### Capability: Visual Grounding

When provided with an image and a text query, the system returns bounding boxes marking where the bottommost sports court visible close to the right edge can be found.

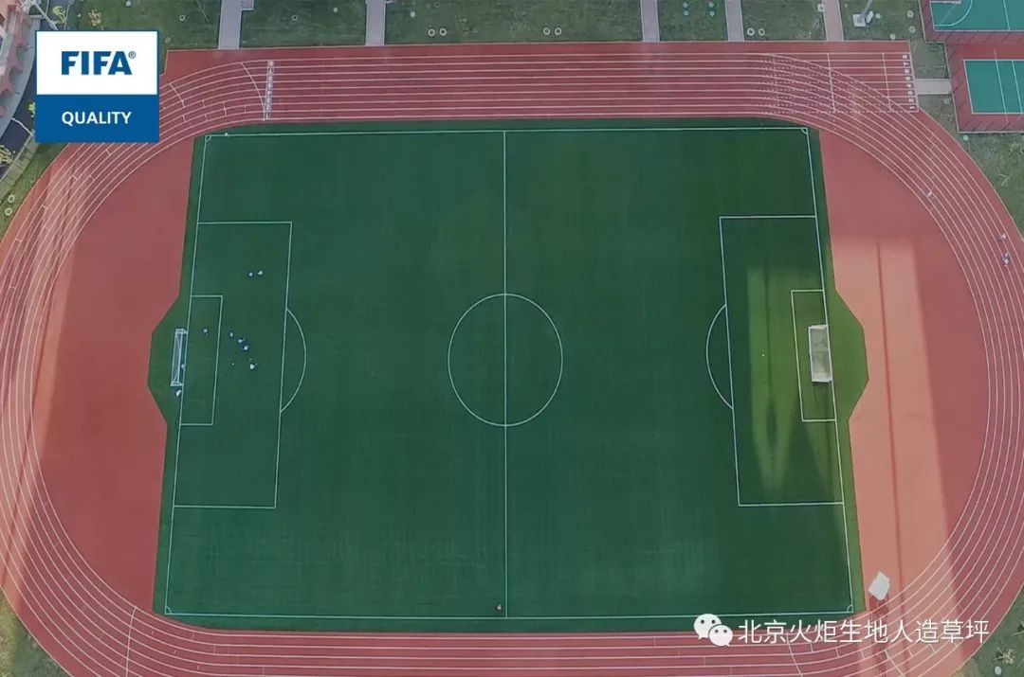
[944,42,1024,132]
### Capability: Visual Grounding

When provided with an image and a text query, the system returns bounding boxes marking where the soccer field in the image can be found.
[147,117,868,633]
